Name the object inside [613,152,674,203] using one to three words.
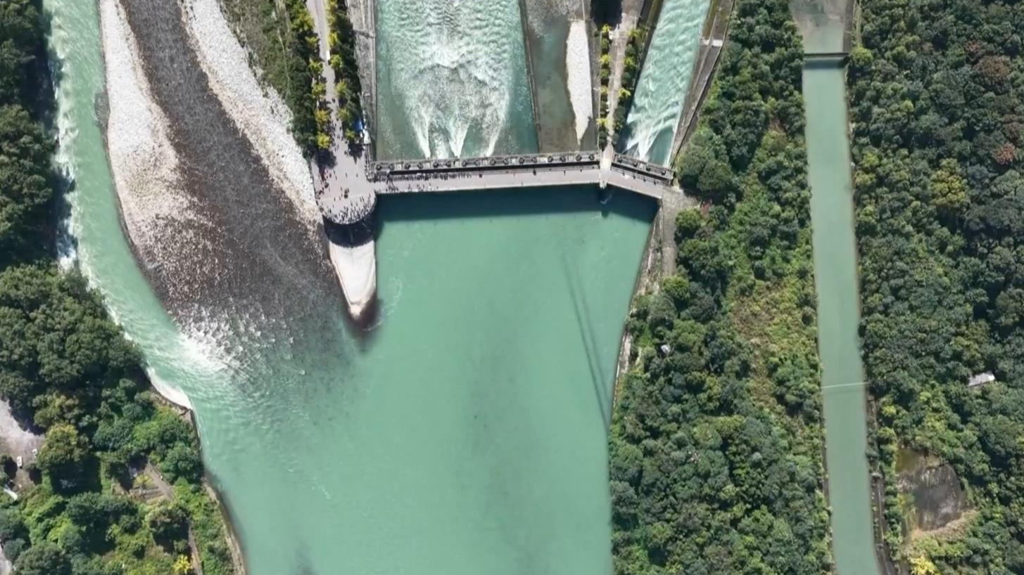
bridge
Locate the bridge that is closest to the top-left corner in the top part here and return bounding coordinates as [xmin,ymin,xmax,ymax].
[375,149,599,195]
